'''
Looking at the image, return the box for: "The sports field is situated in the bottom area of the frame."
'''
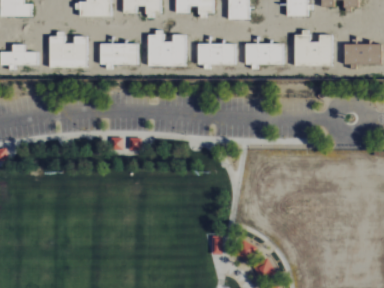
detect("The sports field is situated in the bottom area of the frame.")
[0,136,233,288]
